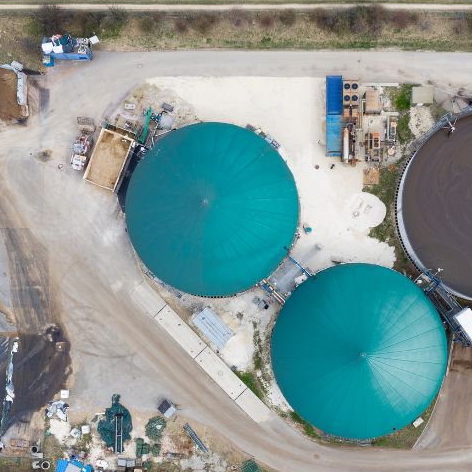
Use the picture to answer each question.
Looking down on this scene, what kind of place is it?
industrial area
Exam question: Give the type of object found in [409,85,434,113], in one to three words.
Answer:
shed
